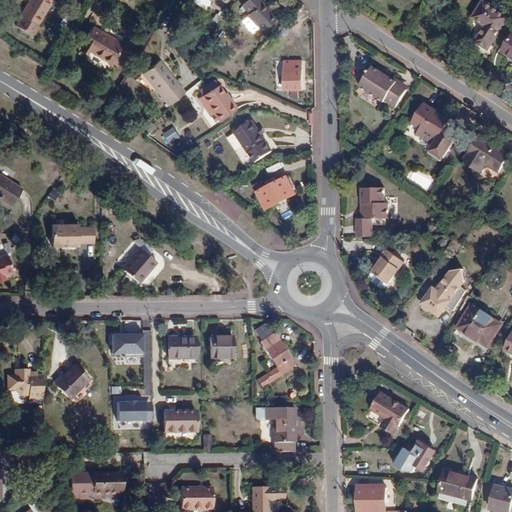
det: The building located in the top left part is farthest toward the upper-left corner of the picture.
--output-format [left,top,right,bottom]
[14,0,50,42]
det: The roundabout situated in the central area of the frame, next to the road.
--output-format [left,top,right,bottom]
[272,246,347,322]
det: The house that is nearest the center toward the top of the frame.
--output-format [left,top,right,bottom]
[254,175,296,213]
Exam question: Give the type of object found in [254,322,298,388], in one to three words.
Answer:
house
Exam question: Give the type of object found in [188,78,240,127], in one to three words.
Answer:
house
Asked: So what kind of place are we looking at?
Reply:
residential area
